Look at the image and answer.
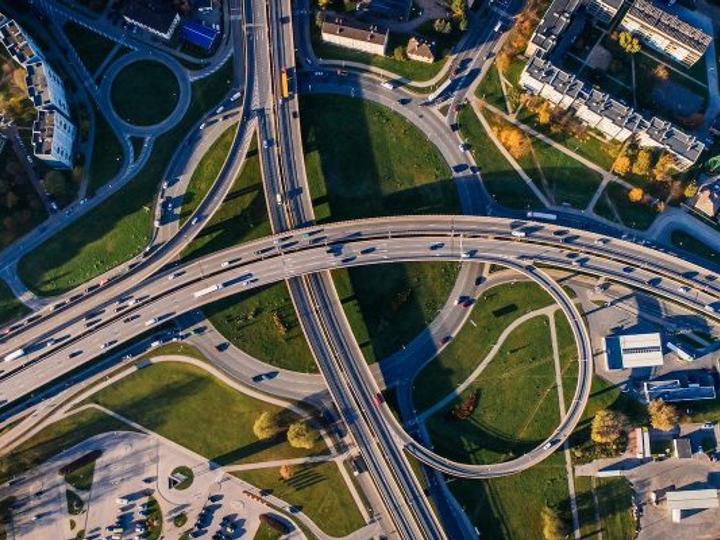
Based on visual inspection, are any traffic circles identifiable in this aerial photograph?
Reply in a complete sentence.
Yes, I can see a traffic circle in this picture.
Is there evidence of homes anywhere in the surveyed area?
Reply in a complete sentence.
Yes, there's a home down there.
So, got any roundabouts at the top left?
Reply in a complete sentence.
Yes, I can see a roundabout at the top left.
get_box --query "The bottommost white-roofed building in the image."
[660,484,719,523]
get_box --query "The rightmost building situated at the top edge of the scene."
[612,0,713,77]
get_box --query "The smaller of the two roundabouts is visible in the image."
[98,49,191,139]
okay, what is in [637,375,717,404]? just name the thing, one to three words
building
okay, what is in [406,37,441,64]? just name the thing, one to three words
house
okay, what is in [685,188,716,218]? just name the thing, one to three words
house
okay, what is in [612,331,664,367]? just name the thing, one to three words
building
